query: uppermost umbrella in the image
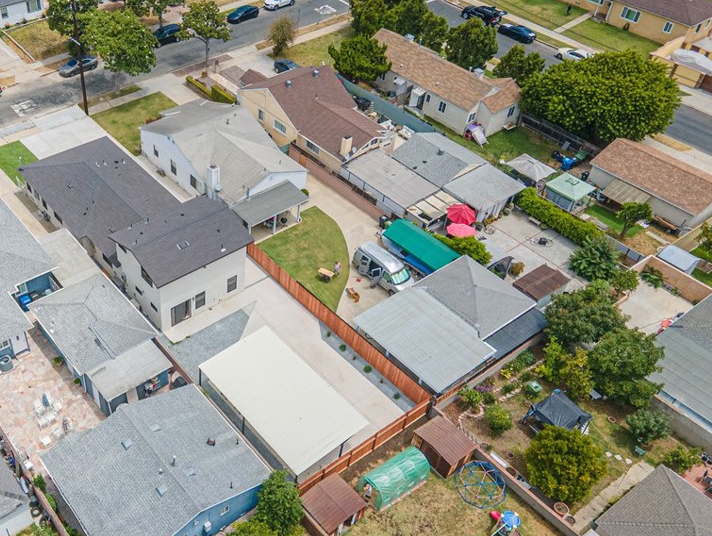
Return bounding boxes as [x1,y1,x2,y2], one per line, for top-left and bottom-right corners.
[498,153,560,189]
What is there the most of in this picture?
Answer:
buildings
